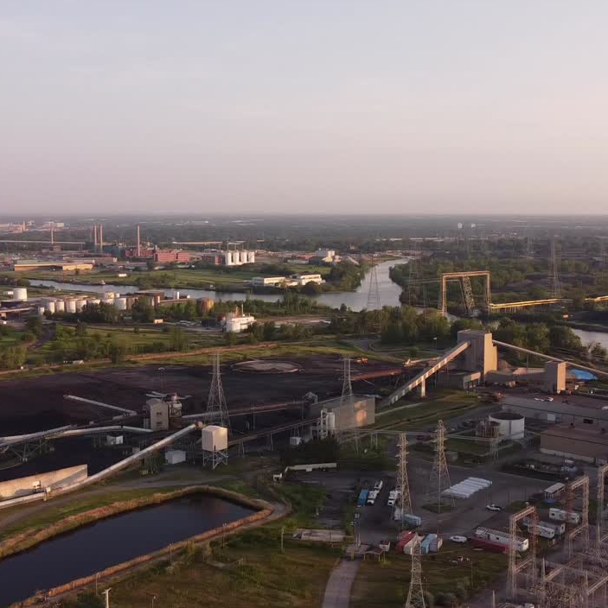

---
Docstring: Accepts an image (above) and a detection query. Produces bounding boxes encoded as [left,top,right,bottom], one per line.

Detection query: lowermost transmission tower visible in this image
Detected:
[401,532,431,608]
